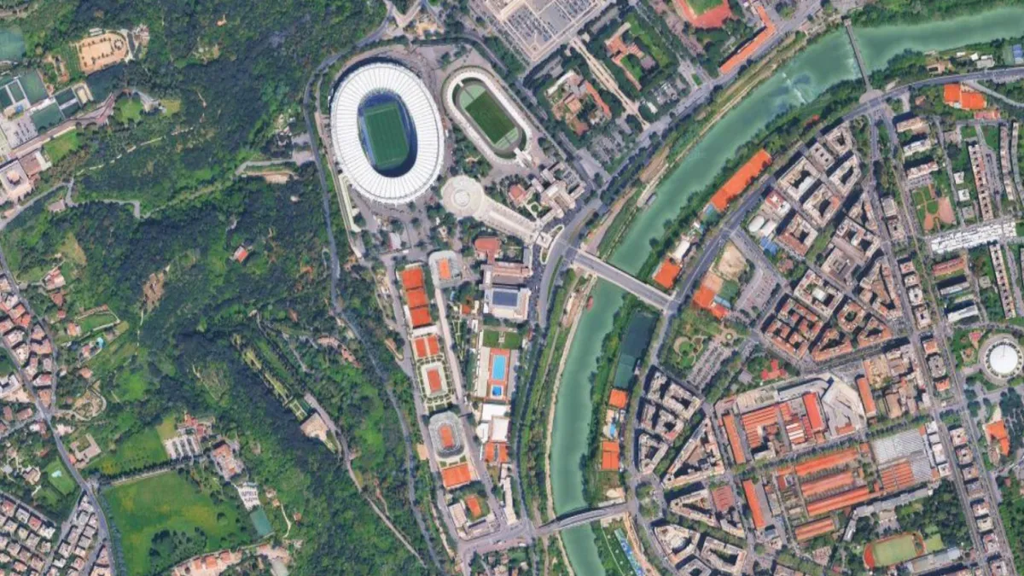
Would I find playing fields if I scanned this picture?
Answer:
Yes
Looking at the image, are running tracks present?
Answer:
Yes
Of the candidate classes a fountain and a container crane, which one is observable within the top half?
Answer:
fountain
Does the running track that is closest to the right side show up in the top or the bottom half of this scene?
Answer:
bottom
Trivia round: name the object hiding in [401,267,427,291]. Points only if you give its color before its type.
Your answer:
red tennis court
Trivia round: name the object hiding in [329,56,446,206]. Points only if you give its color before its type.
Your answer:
white stadium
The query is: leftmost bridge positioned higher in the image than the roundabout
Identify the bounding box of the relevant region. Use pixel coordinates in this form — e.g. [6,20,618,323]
[570,245,674,313]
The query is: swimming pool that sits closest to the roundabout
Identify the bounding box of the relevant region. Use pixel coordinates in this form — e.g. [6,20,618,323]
[603,410,619,439]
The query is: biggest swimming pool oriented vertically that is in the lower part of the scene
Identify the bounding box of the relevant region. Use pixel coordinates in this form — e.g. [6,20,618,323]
[485,348,510,401]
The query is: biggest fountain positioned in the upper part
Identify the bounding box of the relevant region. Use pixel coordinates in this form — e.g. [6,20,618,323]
[442,175,483,217]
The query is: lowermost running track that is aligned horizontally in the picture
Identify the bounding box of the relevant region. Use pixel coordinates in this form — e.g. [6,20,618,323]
[864,532,925,568]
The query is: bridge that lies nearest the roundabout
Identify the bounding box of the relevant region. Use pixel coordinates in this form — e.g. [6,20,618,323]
[534,503,630,535]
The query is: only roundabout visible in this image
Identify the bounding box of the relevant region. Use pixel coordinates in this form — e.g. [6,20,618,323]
[630,469,674,530]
